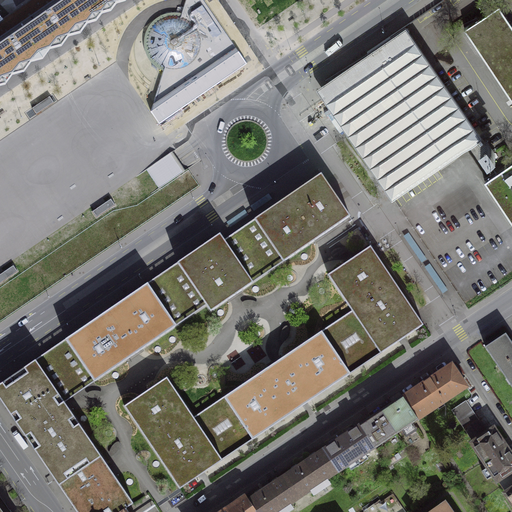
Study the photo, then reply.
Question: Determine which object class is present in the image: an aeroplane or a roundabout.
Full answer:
Looking from above, you can make out a roundabout.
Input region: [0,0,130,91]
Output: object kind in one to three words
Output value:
building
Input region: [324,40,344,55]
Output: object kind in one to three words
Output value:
vehicle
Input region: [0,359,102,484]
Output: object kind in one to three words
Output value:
building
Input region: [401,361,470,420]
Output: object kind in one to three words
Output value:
house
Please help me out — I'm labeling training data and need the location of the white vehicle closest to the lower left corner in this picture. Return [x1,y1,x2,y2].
[13,430,29,449]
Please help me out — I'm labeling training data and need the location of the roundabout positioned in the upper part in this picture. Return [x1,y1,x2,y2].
[222,116,272,166]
